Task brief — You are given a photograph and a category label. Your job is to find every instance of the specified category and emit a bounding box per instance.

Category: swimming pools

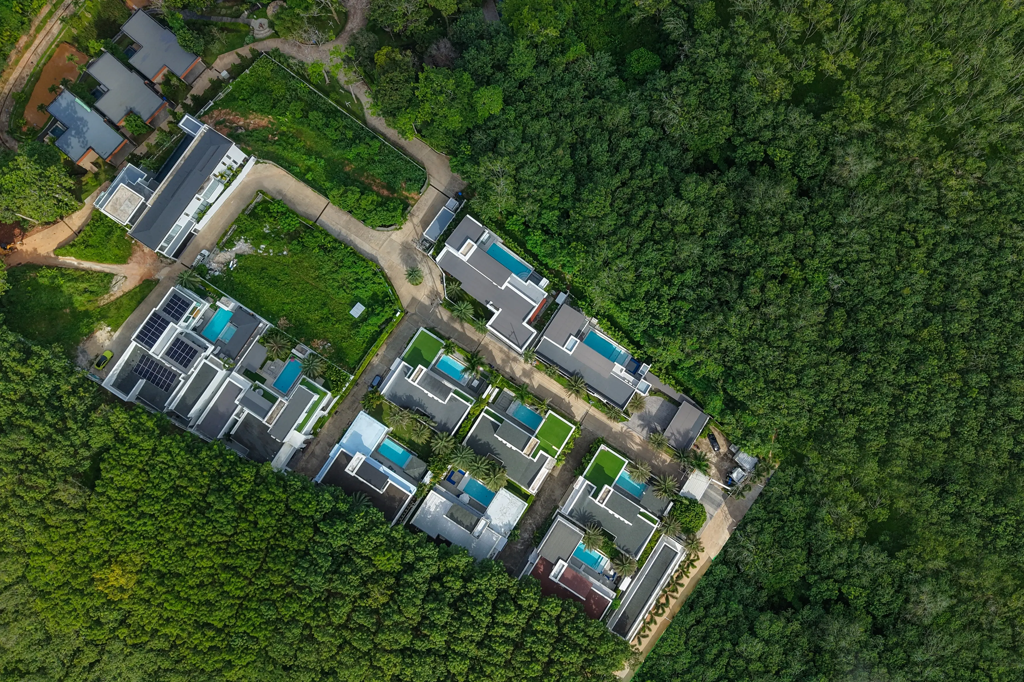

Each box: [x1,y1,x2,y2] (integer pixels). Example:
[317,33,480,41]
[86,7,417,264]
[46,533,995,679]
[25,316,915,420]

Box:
[270,356,305,396]
[124,44,137,60]
[88,84,107,100]
[154,136,194,184]
[485,240,536,283]
[434,353,473,388]
[376,438,414,469]
[218,322,239,345]
[199,306,236,344]
[504,398,543,431]
[572,540,611,575]
[625,355,640,377]
[46,120,67,137]
[616,470,650,500]
[581,329,633,368]
[455,472,496,509]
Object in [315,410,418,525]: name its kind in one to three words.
house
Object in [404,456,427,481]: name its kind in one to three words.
building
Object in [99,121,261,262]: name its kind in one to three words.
house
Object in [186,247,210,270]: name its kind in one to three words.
vehicle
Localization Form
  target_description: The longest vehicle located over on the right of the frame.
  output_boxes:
[708,432,722,454]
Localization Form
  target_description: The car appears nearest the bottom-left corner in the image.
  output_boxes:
[93,350,111,370]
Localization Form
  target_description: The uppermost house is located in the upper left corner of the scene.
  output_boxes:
[120,8,205,83]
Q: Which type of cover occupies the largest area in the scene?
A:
trees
